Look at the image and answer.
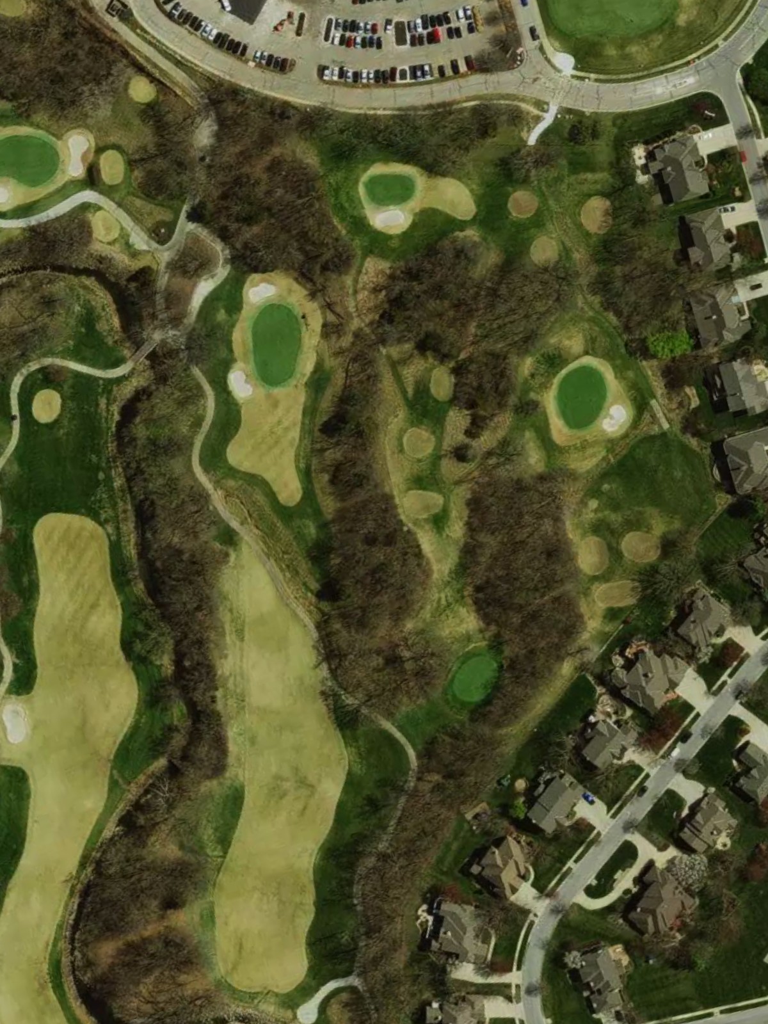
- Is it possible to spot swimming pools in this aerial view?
No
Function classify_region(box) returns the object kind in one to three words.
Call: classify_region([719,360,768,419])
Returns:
house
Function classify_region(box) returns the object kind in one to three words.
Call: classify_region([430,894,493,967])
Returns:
house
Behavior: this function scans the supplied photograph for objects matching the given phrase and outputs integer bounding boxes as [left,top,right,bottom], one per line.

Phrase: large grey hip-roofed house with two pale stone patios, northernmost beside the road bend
[647,130,717,203]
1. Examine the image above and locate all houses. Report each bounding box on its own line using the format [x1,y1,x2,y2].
[678,787,742,853]
[680,588,733,651]
[631,860,699,937]
[581,718,642,770]
[478,833,529,901]
[721,428,768,495]
[687,202,735,270]
[526,767,590,833]
[619,649,698,716]
[647,130,717,203]
[719,360,768,419]
[430,894,493,967]
[580,947,625,1021]
[685,278,755,350]
[737,739,768,807]
[424,989,489,1024]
